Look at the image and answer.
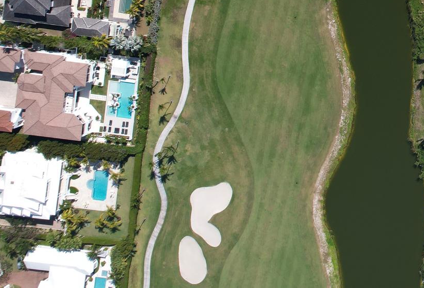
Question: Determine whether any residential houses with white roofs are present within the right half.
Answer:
No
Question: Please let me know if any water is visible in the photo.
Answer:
Yes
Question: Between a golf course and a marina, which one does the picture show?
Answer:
golf course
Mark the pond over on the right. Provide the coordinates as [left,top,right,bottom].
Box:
[325,0,424,288]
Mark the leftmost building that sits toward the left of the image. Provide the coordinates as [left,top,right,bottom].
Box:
[0,110,18,133]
